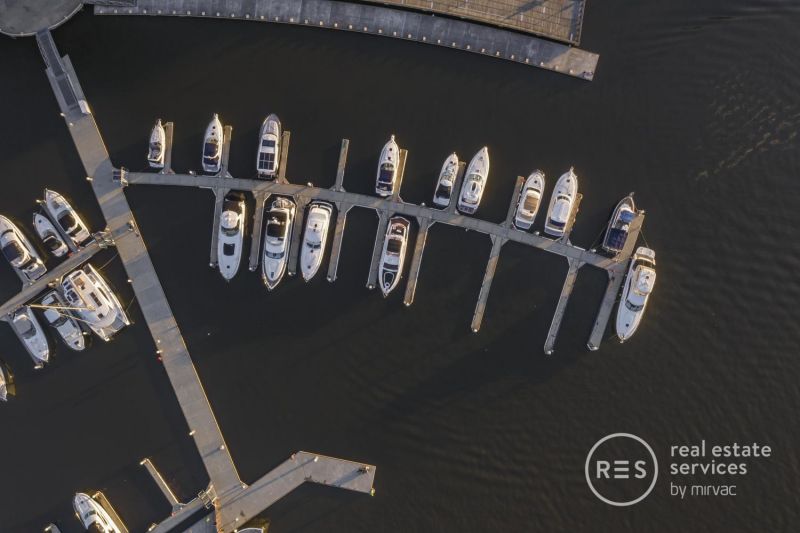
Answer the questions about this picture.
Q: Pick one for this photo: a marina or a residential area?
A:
marina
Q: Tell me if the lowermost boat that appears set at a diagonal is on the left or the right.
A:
left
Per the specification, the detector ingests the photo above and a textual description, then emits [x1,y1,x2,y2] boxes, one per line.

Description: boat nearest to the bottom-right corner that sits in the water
[618,247,661,344]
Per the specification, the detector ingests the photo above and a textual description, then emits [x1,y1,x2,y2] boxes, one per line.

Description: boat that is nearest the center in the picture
[380,217,409,295]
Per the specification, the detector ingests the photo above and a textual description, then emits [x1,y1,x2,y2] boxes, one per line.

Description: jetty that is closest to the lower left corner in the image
[94,459,209,533]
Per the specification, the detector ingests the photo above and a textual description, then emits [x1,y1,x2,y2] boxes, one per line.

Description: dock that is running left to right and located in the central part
[127,123,645,353]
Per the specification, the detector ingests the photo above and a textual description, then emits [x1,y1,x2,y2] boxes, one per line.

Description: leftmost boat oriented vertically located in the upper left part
[146,118,168,168]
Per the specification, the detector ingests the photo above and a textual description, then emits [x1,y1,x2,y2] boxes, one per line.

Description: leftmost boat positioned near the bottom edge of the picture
[73,495,114,533]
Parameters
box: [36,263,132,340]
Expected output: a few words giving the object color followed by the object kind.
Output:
white boat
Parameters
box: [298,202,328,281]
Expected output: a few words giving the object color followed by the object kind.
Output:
white boat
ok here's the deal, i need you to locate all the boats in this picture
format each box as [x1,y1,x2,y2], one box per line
[515,170,545,229]
[73,495,114,533]
[34,216,67,256]
[202,111,225,172]
[298,202,328,281]
[0,216,44,279]
[380,217,409,295]
[216,198,244,281]
[456,147,489,214]
[14,308,49,360]
[239,527,259,533]
[260,198,292,289]
[603,191,634,254]
[255,113,280,178]
[545,164,577,237]
[618,247,661,344]
[44,191,89,245]
[434,152,459,209]
[36,263,132,340]
[146,118,168,168]
[42,292,80,348]
[375,134,400,196]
